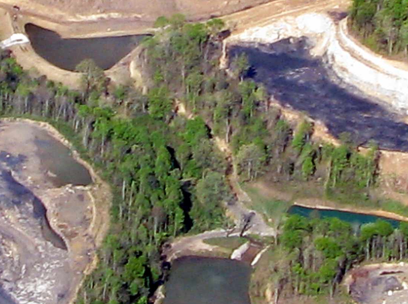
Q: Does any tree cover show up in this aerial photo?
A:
Yes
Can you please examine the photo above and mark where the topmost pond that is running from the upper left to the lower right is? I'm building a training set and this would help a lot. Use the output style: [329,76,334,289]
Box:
[35,134,91,186]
